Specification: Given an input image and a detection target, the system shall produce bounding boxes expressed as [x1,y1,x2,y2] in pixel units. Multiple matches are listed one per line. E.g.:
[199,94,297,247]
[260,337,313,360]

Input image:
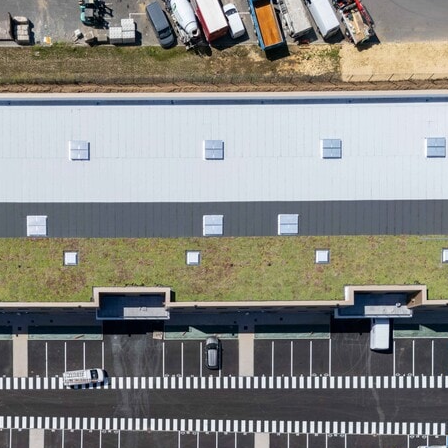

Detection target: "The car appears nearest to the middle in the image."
[205,336,223,371]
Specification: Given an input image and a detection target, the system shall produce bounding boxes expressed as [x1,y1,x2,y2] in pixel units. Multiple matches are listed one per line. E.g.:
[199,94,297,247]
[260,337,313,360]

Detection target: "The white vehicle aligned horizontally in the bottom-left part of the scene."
[63,366,105,385]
